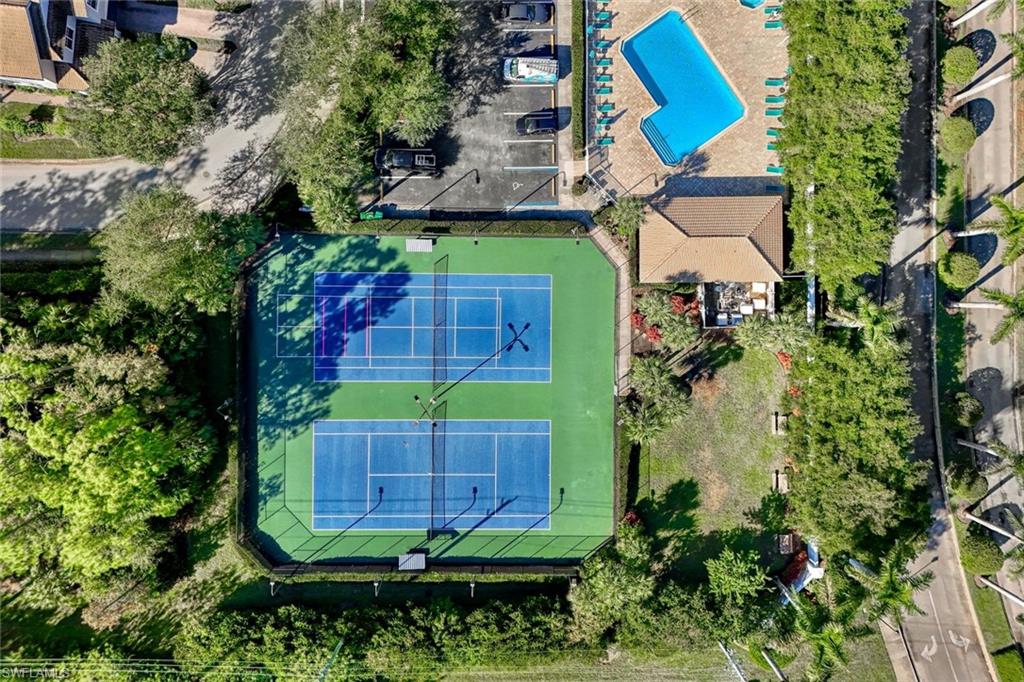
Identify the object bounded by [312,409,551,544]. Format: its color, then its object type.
blue tennis court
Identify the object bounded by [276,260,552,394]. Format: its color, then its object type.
blue tennis court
